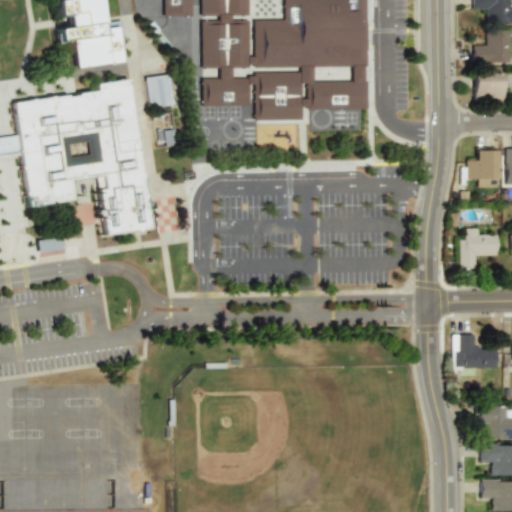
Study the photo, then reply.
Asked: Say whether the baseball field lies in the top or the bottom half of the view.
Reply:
bottom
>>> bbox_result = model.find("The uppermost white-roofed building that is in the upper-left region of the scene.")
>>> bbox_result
[58,0,127,69]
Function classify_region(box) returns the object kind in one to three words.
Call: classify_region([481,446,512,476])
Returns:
house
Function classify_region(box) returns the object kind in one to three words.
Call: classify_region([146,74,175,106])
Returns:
building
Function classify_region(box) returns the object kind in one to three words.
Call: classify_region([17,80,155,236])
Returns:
building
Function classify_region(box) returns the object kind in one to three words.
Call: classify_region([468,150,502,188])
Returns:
house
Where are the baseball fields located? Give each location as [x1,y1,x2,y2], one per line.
[175,368,425,512]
